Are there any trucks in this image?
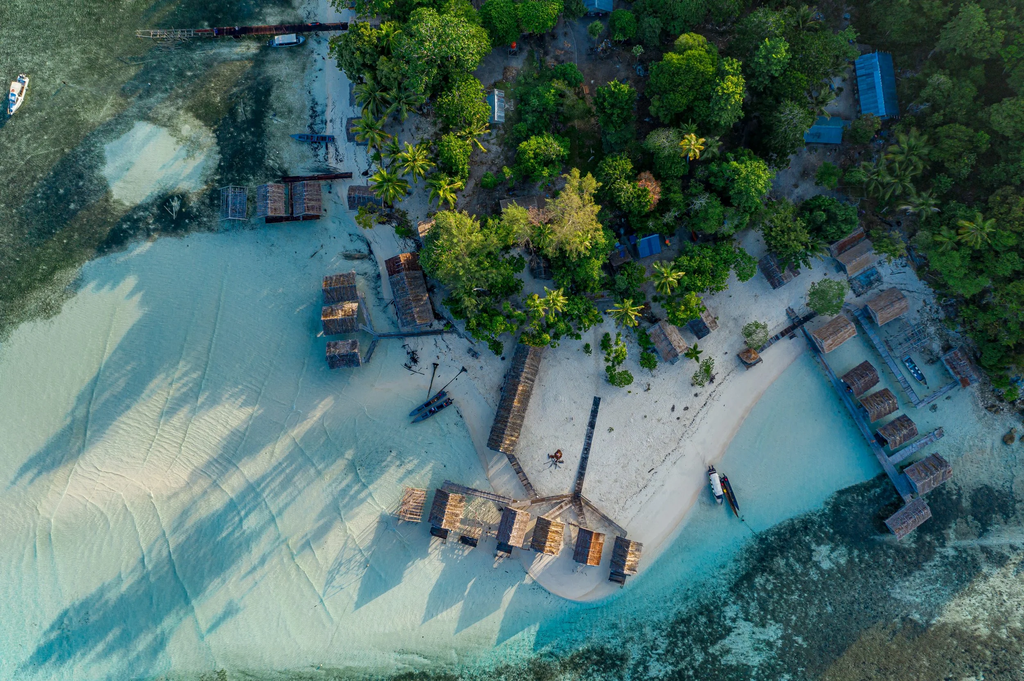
No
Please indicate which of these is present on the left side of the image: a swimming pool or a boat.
boat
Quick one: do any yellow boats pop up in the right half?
No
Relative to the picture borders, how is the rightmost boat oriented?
at an angle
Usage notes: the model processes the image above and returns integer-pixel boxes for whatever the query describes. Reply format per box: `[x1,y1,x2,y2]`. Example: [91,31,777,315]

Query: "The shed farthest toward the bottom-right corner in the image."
[873,494,930,538]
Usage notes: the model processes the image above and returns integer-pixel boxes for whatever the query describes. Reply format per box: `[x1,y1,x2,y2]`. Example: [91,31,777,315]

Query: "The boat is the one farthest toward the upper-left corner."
[7,72,32,115]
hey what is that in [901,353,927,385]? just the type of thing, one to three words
boat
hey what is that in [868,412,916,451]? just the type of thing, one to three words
shed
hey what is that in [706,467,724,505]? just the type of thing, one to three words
boat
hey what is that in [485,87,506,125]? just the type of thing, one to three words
building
